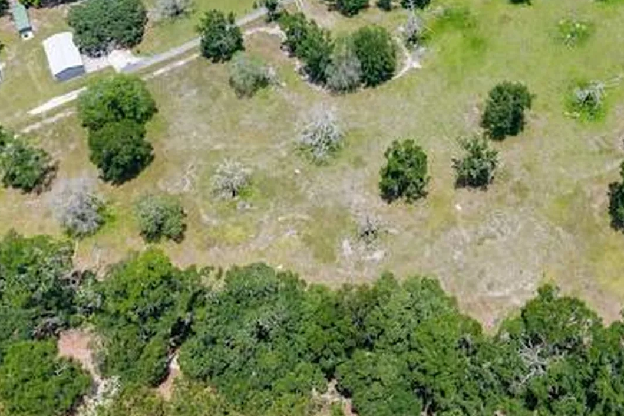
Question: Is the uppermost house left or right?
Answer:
left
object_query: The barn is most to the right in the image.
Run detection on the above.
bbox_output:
[45,30,85,82]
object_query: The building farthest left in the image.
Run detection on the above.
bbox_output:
[11,0,38,45]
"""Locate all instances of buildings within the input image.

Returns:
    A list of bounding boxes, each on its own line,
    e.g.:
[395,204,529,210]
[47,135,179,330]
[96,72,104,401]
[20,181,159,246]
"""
[45,30,85,82]
[11,0,38,45]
